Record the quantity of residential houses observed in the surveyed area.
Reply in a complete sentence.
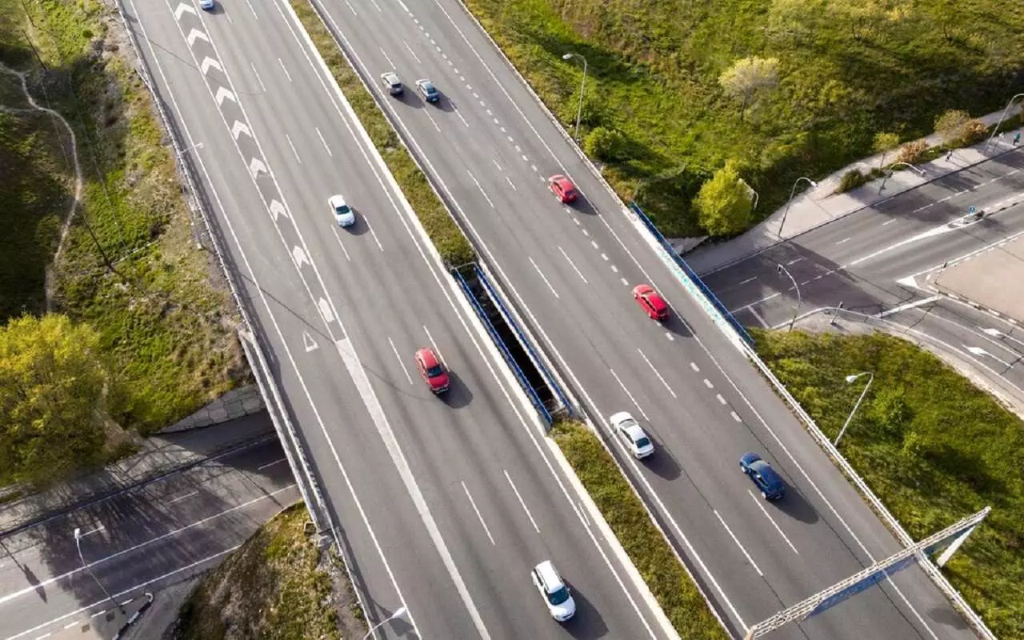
No residential houses are visible.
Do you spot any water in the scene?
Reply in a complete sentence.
No, there is no water in the image.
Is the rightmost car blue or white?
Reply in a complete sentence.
The rightmost car looks blue in the image.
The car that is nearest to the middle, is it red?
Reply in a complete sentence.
Yes, the car that is nearest to the middle appears red.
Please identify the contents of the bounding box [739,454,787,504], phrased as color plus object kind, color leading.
blue car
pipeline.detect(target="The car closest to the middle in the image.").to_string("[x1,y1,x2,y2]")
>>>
[415,348,450,392]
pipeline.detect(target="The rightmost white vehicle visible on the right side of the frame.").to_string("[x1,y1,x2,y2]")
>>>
[610,414,654,463]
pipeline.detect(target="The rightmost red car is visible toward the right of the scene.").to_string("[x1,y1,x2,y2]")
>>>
[633,287,670,322]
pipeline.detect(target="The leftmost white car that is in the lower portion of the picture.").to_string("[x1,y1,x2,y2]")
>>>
[530,561,575,622]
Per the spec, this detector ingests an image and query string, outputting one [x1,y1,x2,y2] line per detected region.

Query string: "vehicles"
[548,177,577,204]
[739,454,787,504]
[381,73,404,97]
[415,348,450,392]
[633,287,670,322]
[610,414,654,463]
[530,561,575,622]
[327,196,354,226]
[416,81,440,104]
